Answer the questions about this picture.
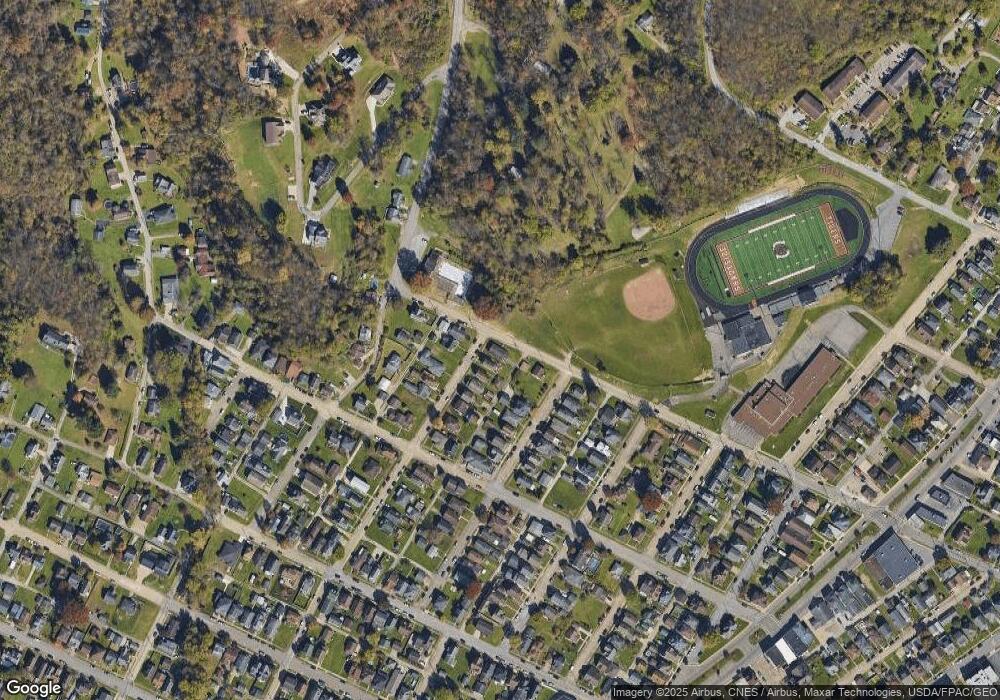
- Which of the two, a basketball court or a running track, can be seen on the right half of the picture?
running track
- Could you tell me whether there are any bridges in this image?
No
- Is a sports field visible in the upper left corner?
No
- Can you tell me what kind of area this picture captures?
residential area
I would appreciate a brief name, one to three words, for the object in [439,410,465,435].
house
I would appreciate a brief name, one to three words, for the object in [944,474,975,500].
building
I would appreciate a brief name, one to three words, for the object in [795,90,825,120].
building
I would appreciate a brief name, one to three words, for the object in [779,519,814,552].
house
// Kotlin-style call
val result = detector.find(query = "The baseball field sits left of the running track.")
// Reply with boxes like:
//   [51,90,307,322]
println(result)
[624,267,675,321]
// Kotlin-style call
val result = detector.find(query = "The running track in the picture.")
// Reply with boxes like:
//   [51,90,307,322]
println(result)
[690,185,872,320]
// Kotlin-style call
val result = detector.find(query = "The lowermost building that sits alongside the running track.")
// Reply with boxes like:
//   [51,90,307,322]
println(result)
[733,349,841,438]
